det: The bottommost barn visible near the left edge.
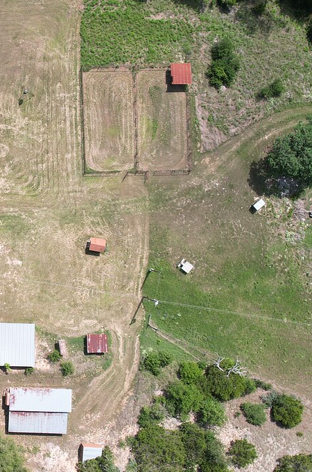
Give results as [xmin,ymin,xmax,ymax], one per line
[4,386,74,435]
